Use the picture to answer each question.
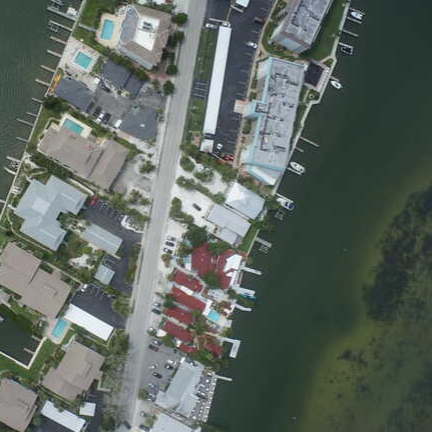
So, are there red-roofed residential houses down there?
Yes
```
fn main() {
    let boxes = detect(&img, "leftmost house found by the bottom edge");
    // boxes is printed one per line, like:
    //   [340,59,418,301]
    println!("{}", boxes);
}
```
[0,375,39,432]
